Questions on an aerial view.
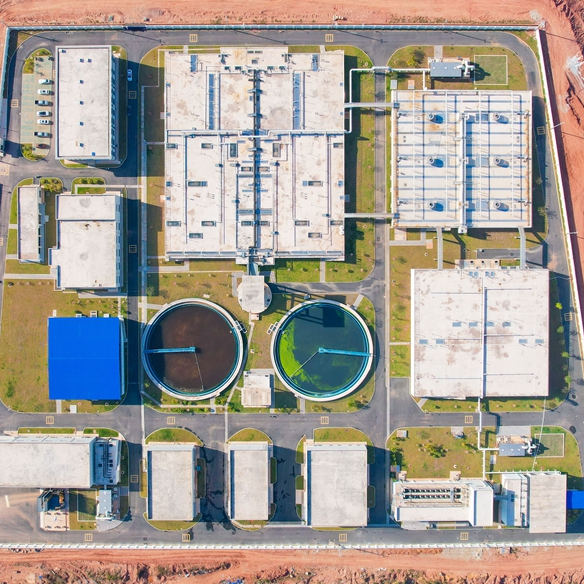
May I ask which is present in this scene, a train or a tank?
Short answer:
tank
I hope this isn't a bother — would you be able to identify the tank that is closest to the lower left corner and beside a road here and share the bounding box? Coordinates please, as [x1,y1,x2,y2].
[142,298,244,400]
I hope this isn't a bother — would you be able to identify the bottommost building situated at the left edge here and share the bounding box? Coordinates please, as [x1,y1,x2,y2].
[0,434,124,487]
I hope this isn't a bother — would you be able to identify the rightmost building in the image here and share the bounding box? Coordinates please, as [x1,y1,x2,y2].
[522,469,567,533]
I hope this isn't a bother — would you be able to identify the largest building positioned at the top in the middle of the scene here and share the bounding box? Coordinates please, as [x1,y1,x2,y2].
[164,47,345,265]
